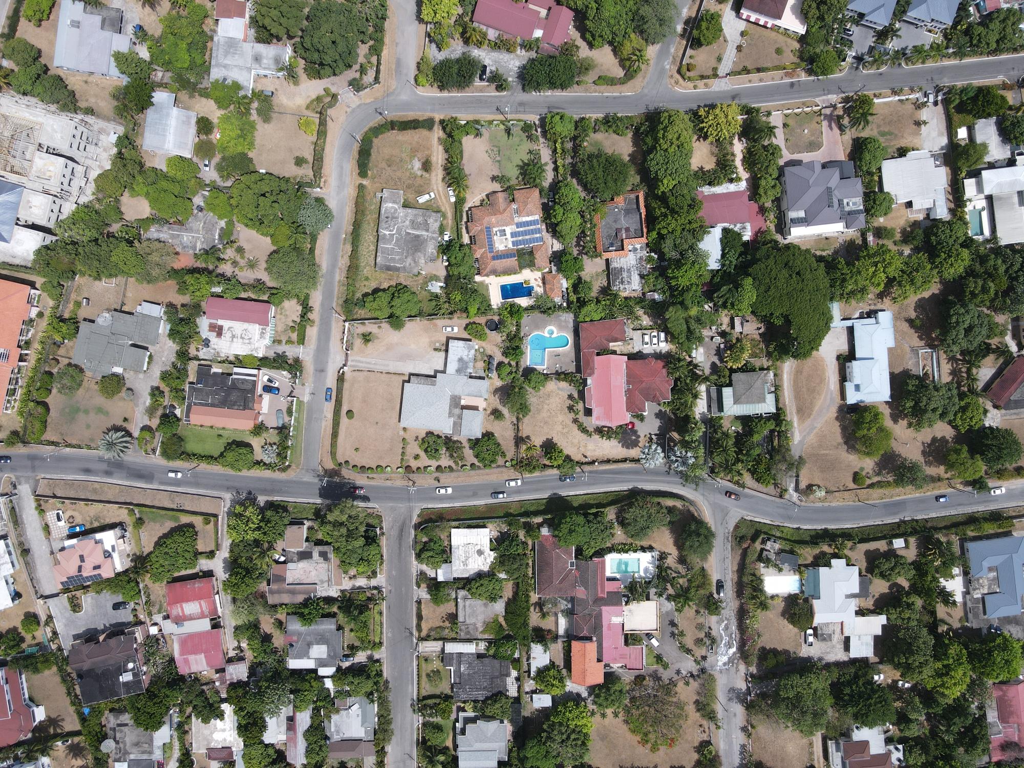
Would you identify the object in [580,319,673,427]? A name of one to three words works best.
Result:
house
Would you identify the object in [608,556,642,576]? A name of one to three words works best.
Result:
swimming pool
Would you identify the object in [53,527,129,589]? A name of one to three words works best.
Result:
house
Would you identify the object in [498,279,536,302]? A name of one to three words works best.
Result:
swimming pool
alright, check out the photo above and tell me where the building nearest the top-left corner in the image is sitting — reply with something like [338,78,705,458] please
[54,0,136,80]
